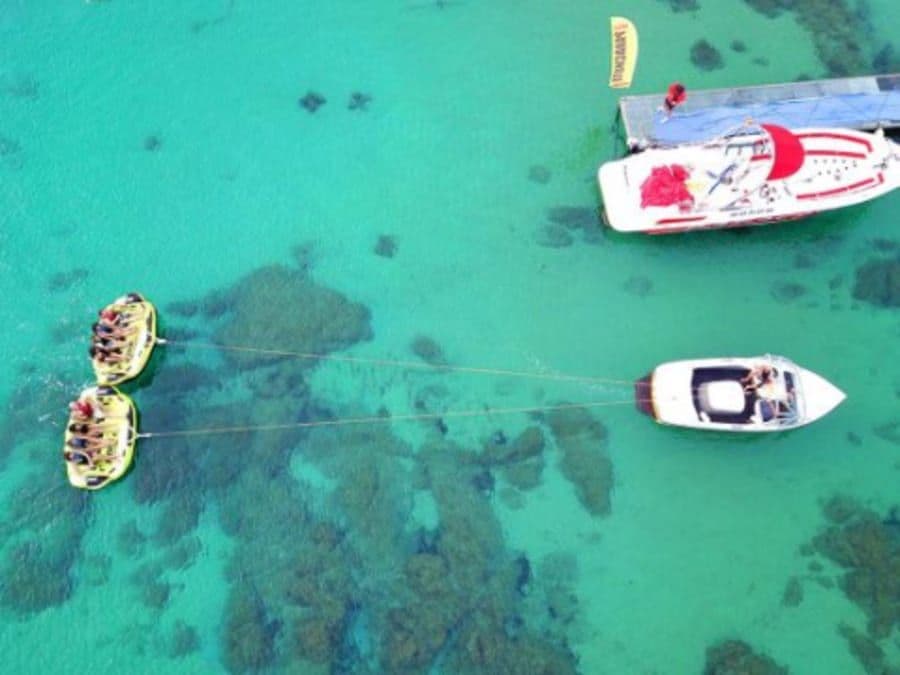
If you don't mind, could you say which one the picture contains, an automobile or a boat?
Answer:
boat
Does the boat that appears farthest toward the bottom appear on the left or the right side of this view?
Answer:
right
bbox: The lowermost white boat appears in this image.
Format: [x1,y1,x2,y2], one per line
[635,358,849,433]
